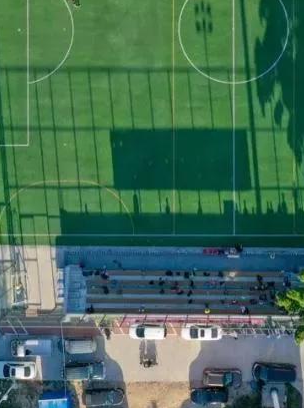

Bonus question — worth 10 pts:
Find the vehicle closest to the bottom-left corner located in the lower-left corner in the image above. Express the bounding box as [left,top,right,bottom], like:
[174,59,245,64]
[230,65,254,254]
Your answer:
[0,360,37,381]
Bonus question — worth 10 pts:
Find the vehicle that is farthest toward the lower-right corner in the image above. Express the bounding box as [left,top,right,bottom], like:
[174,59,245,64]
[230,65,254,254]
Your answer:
[252,362,297,385]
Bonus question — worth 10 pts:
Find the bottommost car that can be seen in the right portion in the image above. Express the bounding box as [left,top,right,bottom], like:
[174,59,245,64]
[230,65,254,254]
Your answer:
[190,386,229,406]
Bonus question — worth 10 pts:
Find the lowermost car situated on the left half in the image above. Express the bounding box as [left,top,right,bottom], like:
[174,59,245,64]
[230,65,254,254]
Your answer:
[86,387,124,408]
